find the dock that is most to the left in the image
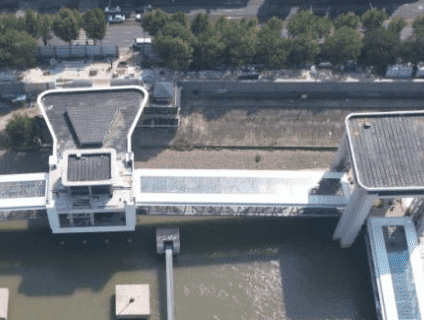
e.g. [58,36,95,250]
[156,231,180,257]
